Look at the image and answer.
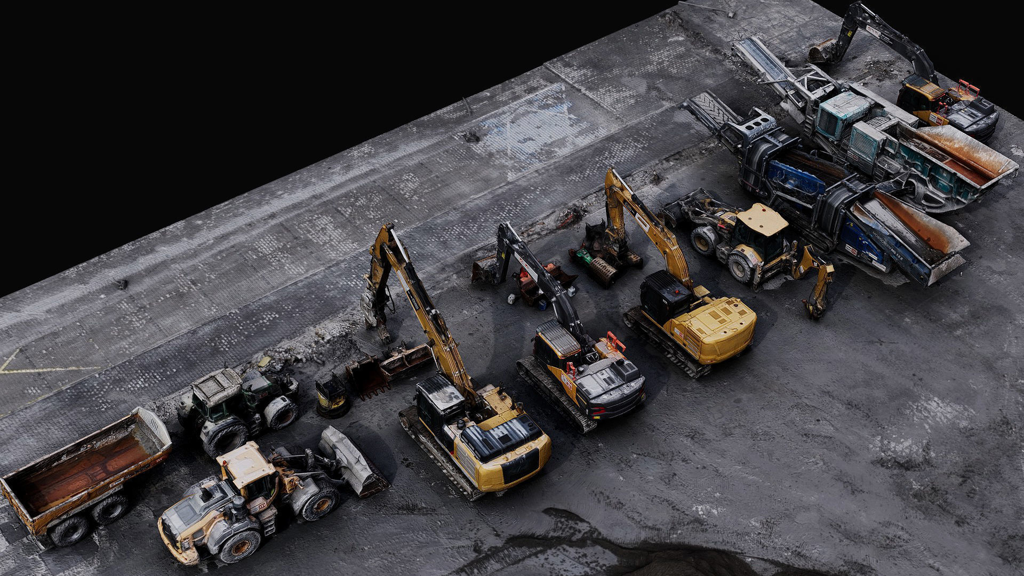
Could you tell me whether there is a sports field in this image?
No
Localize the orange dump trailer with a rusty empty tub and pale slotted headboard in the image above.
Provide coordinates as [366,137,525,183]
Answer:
[2,394,204,549]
